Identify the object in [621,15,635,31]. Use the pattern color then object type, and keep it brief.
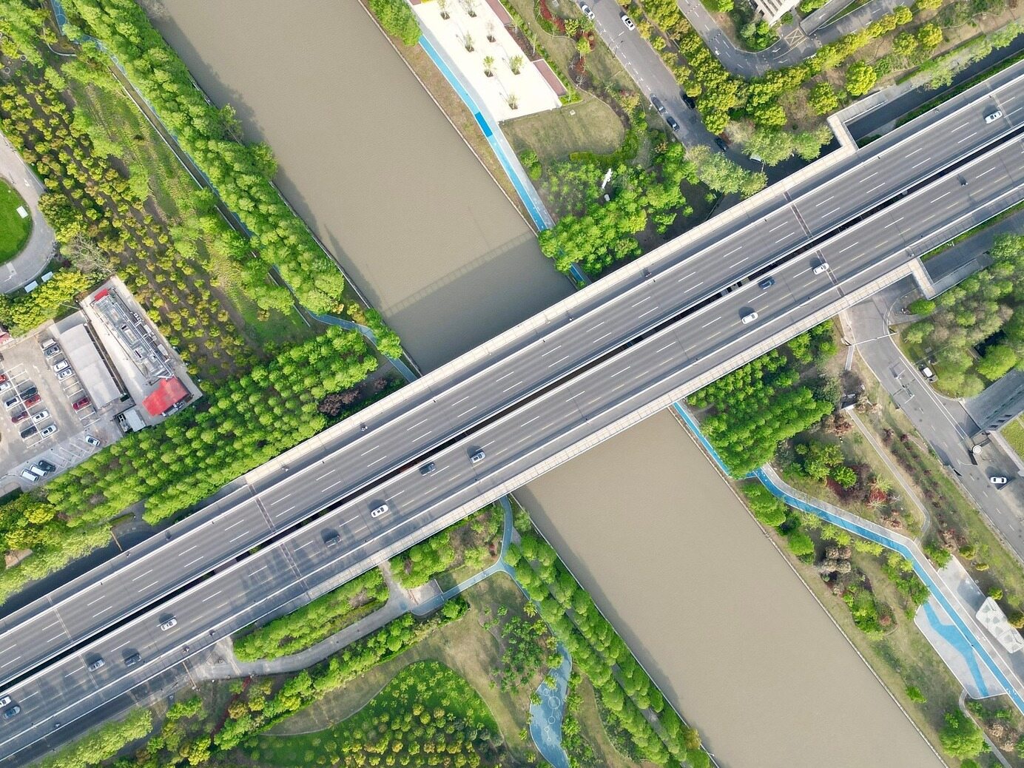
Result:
white car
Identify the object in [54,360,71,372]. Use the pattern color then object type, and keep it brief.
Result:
white vehicle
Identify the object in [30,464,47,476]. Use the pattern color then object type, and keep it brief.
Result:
white vehicle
